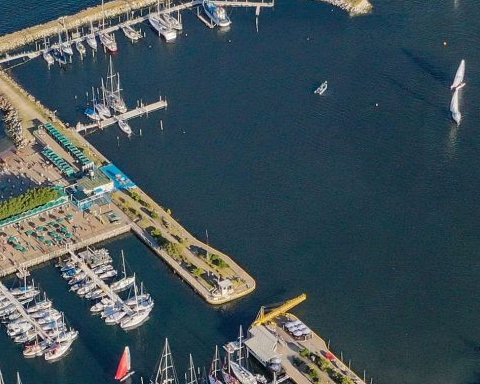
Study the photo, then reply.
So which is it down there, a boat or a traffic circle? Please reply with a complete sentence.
Looking from above, you can make out a boat.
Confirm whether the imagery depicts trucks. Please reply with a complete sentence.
No, there isn't any truck down there.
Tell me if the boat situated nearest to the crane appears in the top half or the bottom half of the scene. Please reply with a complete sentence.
The bottom half of the photo is where the boat situated nearest to the crane is.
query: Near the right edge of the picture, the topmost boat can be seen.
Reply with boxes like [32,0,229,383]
[447,59,469,91]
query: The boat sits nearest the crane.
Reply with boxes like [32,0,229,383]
[231,307,260,384]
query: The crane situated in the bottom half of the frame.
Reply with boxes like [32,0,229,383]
[250,292,306,326]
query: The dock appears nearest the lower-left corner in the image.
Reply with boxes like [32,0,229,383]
[0,277,59,346]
